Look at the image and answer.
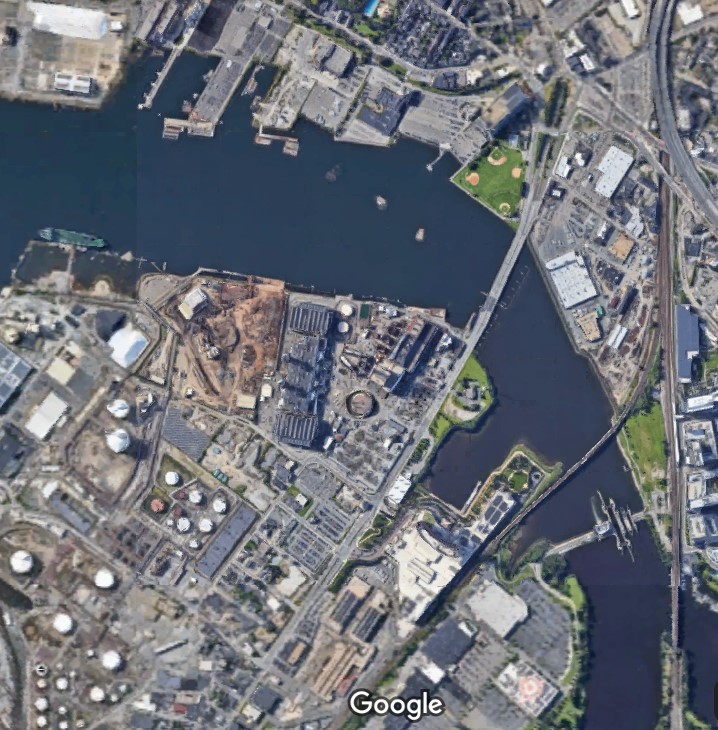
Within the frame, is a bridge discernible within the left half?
No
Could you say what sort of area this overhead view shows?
port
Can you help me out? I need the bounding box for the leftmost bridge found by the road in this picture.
[463,193,536,350]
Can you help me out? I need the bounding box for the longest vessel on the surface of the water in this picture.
[39,229,106,247]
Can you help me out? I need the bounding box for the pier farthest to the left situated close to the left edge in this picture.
[11,240,86,282]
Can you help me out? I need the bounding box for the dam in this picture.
[542,488,651,562]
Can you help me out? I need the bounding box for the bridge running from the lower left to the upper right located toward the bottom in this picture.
[498,415,625,538]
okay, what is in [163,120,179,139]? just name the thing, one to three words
ship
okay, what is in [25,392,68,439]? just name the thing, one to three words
shed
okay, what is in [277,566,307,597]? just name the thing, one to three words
building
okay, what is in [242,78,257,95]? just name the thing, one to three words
ship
